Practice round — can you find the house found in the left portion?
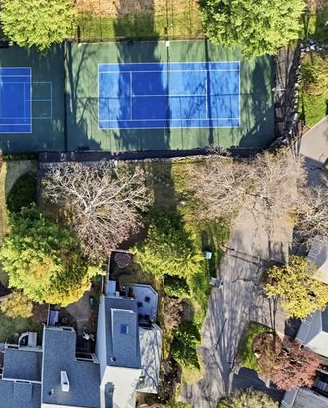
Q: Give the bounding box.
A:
[0,278,162,408]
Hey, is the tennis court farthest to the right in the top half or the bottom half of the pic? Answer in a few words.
top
